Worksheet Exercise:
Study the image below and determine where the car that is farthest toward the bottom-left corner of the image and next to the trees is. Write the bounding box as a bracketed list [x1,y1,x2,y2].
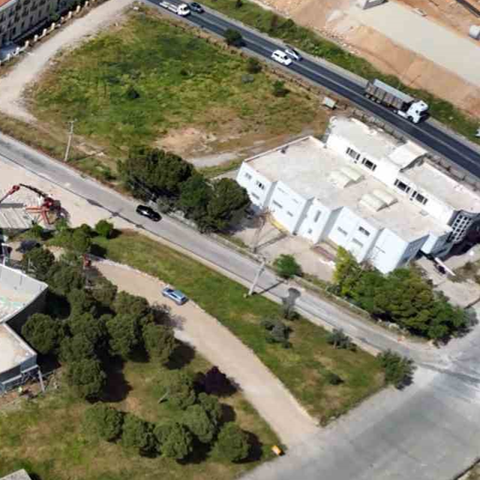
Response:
[162,284,190,303]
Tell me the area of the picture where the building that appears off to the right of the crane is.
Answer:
right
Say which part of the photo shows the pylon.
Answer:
center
